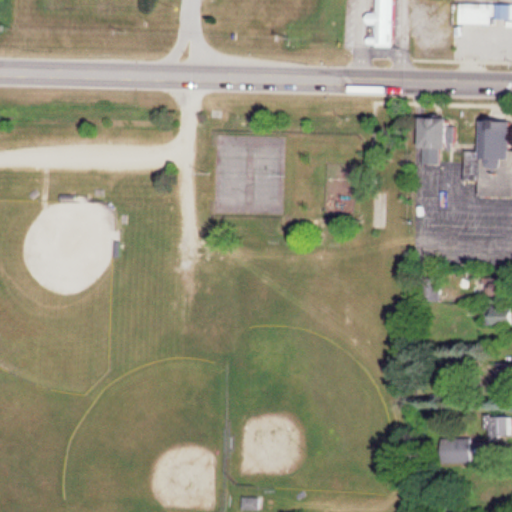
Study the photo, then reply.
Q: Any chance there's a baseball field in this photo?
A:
Yes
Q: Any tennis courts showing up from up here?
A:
Yes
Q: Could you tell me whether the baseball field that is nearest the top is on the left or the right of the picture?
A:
left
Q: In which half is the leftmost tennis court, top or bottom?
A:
top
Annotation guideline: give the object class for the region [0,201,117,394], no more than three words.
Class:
baseball field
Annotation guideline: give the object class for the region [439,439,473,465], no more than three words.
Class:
house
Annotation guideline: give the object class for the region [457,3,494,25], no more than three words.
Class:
shed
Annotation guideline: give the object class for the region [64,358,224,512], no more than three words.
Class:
baseball field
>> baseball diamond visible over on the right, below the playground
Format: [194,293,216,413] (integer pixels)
[229,326,392,494]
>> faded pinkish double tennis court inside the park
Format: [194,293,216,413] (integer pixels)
[215,135,286,215]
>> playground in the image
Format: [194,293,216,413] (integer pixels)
[326,164,354,214]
